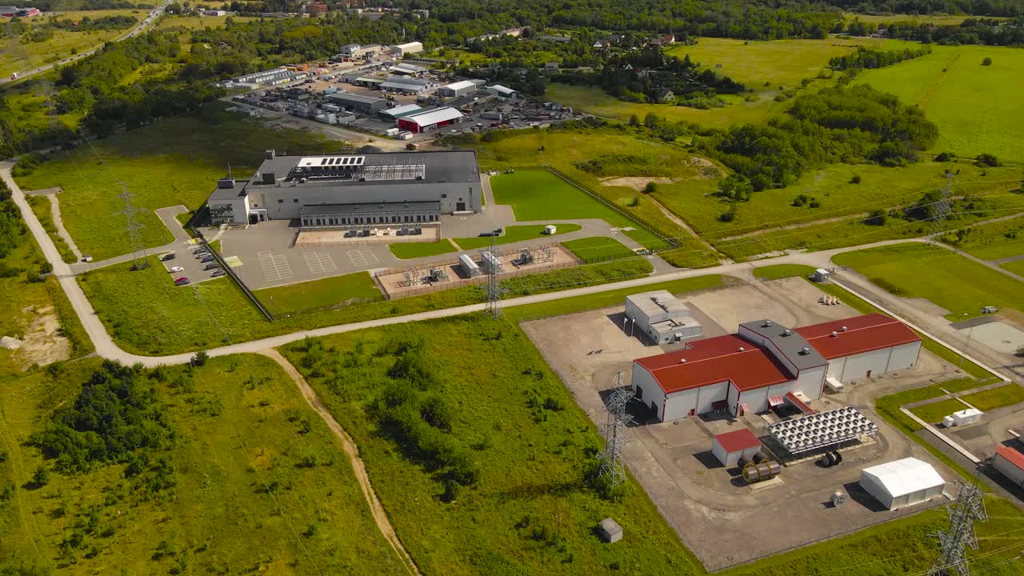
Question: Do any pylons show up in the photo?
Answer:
Yes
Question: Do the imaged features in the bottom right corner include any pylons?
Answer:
Yes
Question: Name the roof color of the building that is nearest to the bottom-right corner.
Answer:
red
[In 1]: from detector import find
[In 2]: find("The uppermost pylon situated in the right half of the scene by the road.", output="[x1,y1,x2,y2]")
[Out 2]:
[918,172,958,246]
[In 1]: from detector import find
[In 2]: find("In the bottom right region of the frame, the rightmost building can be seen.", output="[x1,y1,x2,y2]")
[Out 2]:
[991,443,1024,487]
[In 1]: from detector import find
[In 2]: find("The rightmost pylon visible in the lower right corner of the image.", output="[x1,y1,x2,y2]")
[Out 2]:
[926,469,999,576]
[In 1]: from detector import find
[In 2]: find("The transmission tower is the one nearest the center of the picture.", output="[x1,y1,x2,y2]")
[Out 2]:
[474,230,512,323]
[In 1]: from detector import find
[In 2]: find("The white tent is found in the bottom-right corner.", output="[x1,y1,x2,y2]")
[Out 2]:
[858,457,946,510]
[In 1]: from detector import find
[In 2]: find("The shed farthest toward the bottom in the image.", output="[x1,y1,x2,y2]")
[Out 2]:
[596,516,622,542]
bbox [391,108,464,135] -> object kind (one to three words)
building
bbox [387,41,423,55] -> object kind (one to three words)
building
